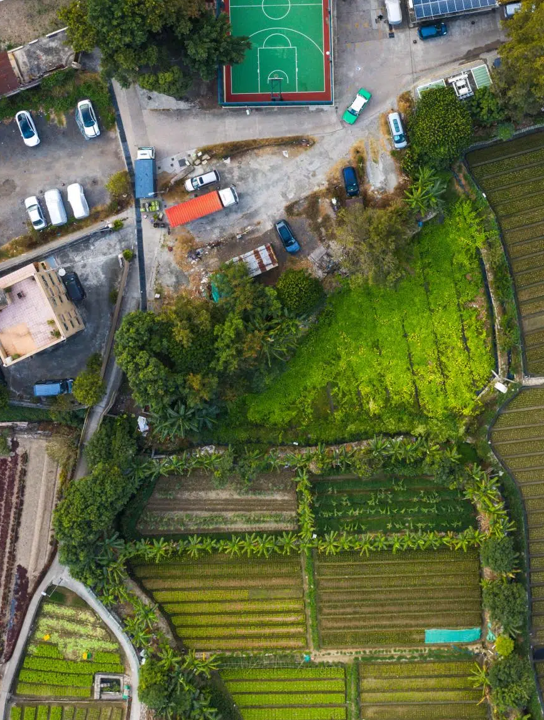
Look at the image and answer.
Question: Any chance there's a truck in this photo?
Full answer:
Yes, there's a truck here.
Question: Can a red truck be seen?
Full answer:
Yes, this view includes a red truck.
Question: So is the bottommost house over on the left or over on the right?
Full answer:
The bottommost house is on the left side of the image.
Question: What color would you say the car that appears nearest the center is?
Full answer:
The car that appears nearest the center is blue.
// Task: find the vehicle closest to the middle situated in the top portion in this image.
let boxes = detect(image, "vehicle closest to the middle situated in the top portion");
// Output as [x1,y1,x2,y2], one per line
[274,218,298,253]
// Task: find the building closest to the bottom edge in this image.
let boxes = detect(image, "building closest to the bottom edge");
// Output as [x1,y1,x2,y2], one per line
[0,263,85,367]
